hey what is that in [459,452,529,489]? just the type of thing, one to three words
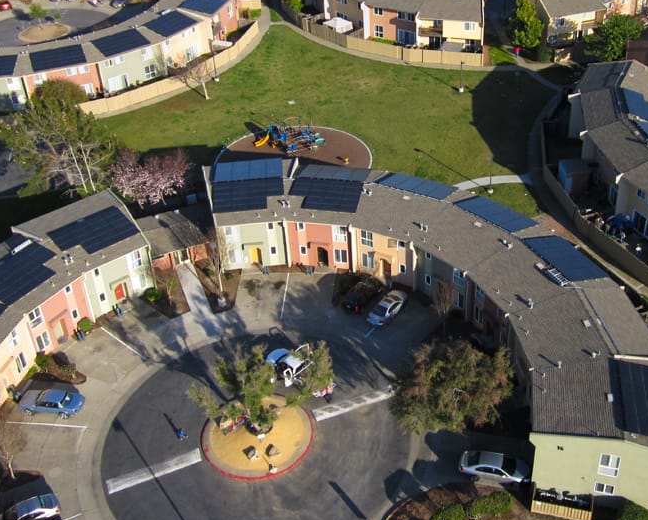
car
